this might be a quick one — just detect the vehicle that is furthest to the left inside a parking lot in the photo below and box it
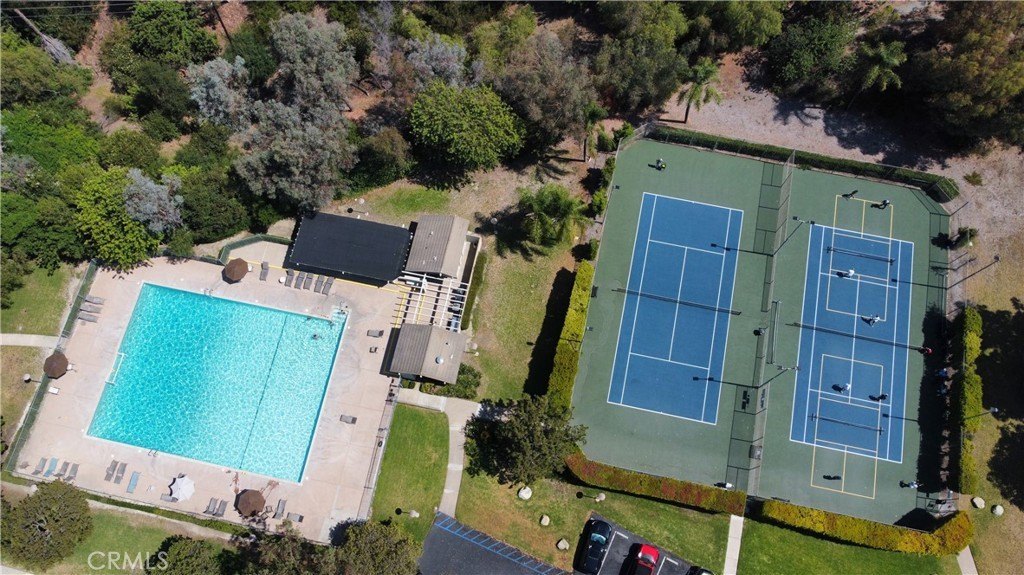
[577,520,611,575]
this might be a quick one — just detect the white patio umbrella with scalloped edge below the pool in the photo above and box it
[170,475,196,502]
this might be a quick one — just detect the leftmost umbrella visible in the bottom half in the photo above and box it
[46,353,71,378]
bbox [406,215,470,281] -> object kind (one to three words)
building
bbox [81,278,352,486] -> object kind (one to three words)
swimming pool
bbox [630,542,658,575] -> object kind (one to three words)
car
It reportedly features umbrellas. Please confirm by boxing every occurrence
[225,259,249,281]
[237,488,266,517]
[46,353,71,378]
[170,475,196,502]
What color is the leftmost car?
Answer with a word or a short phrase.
black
